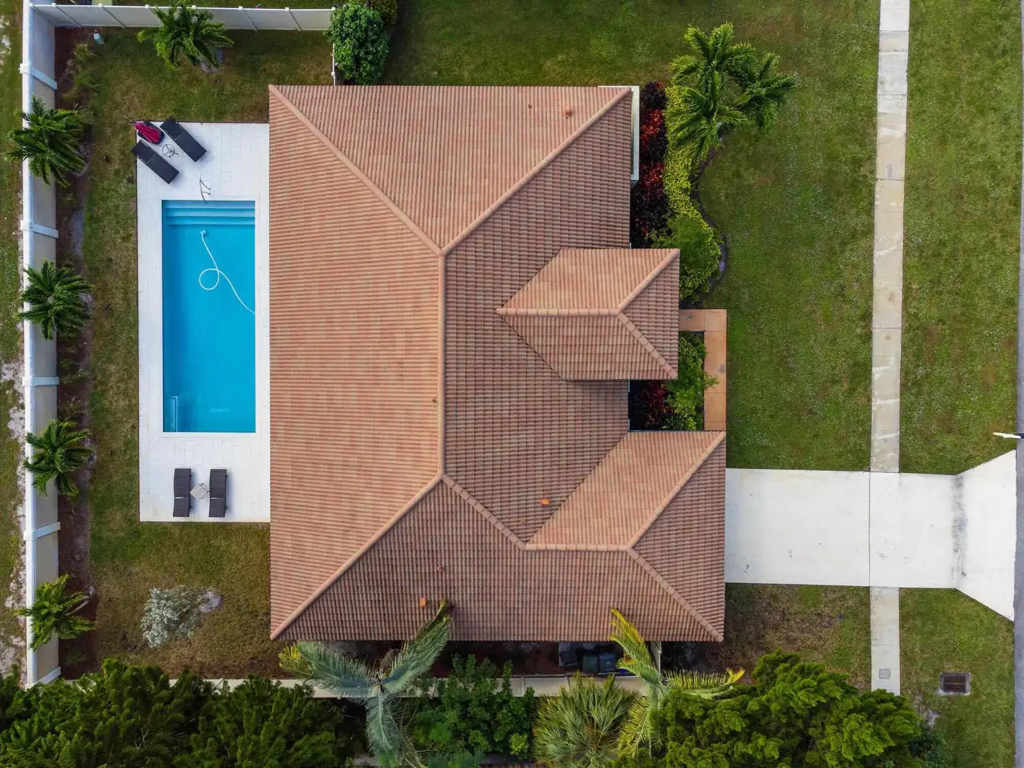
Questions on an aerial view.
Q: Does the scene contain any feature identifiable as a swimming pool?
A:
Yes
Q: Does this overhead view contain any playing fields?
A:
No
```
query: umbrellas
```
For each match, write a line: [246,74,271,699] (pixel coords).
[124,117,160,143]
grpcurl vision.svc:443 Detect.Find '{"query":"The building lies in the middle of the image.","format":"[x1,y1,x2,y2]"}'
[265,84,728,643]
